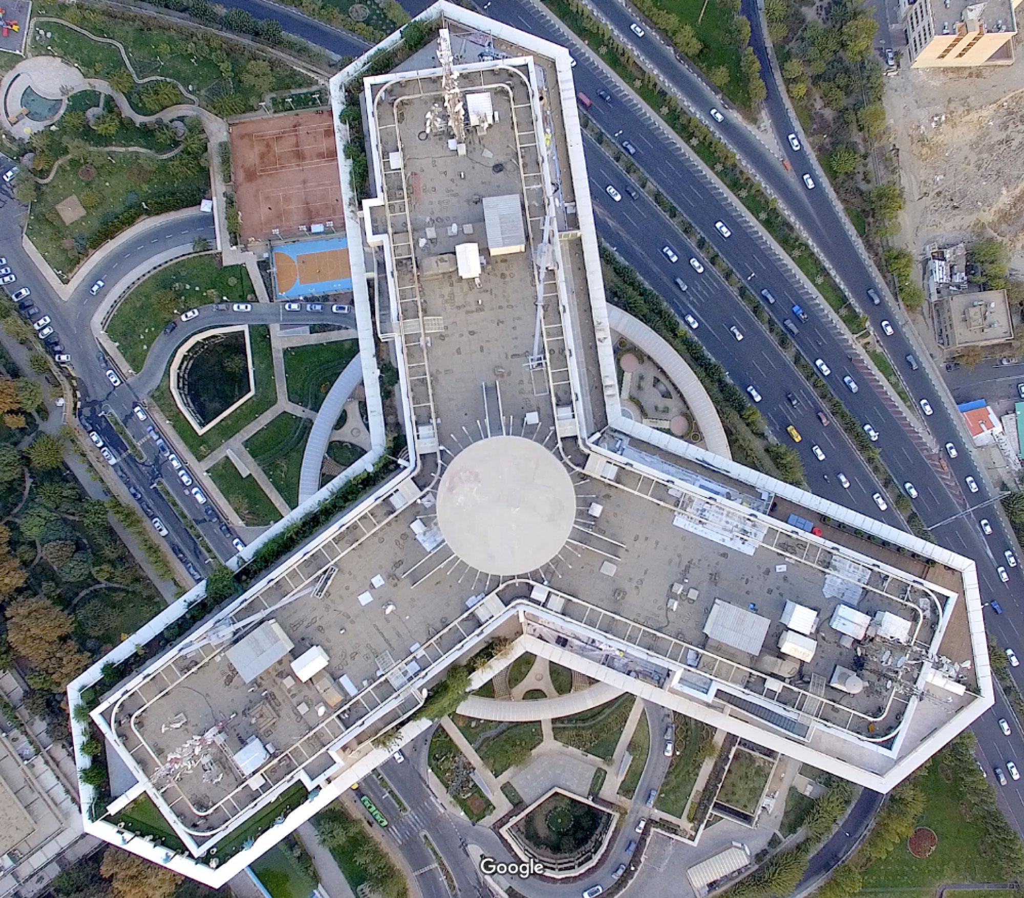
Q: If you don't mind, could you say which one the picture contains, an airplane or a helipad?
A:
helipad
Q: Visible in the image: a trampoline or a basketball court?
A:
basketball court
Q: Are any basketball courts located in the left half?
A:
Yes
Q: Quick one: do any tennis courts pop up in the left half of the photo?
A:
Yes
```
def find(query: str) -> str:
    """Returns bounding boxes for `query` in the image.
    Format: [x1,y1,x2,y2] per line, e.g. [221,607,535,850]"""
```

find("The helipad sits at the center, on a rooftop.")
[437,436,577,576]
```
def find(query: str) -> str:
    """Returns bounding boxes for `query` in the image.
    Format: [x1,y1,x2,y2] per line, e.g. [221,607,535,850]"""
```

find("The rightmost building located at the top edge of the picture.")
[905,0,1016,64]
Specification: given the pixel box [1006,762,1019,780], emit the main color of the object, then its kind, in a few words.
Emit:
white vehicle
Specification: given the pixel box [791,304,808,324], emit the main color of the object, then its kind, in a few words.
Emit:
blue vehicle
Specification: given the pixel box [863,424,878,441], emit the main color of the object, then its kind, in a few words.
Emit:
white car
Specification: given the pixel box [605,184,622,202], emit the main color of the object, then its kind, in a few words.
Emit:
white car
